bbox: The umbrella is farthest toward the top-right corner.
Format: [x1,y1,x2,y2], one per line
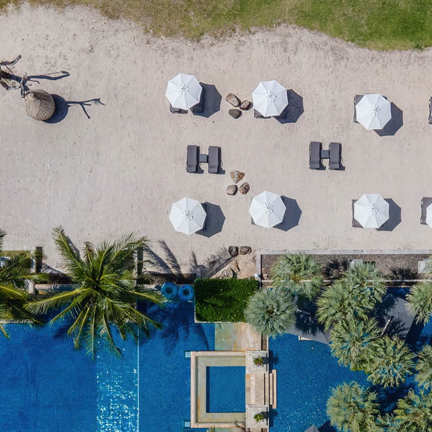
[355,94,392,131]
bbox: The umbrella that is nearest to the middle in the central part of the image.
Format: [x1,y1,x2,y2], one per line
[170,198,206,235]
